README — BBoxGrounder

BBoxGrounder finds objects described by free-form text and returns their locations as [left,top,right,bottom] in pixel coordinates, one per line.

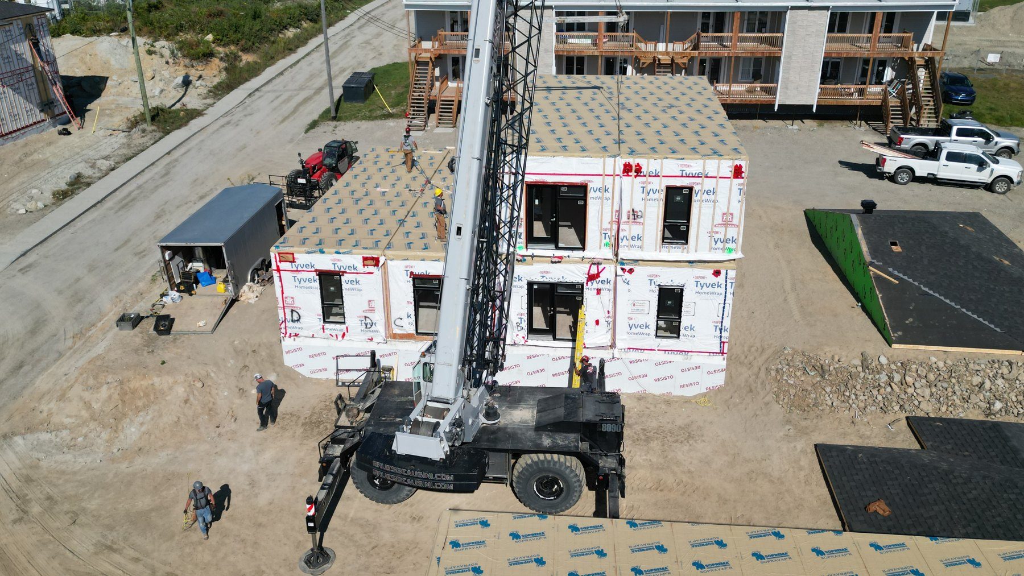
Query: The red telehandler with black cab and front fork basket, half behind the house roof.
[259,135,371,206]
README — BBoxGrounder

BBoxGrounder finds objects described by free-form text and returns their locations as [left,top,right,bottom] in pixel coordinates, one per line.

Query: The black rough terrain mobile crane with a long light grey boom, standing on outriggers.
[298,0,630,575]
